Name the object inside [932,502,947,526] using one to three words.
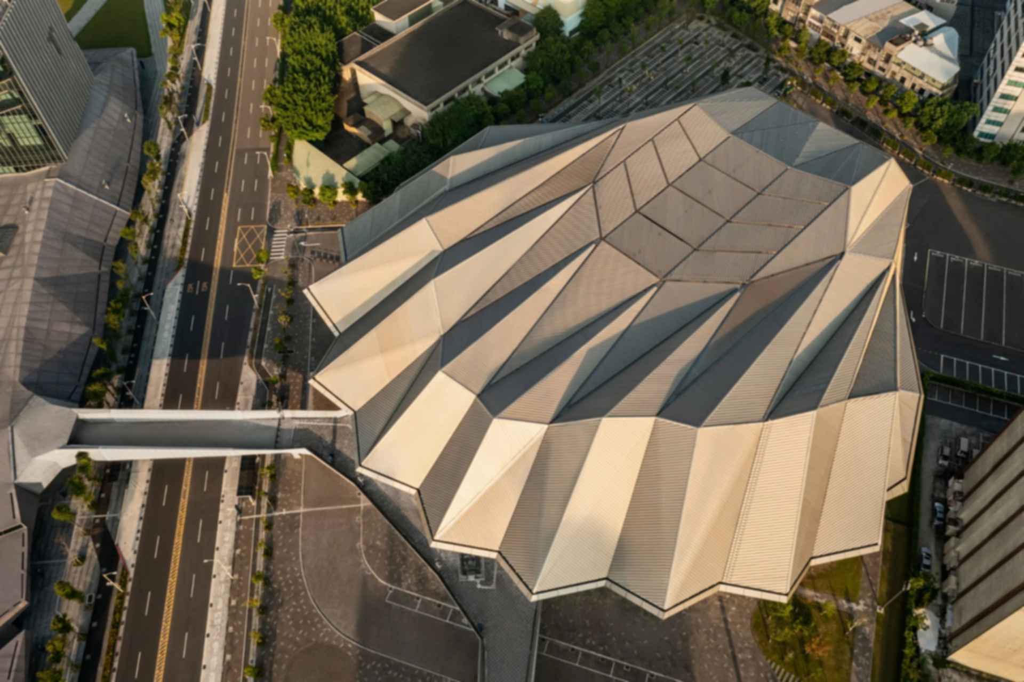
car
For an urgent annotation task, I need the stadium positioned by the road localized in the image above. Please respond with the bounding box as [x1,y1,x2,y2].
[299,85,925,622]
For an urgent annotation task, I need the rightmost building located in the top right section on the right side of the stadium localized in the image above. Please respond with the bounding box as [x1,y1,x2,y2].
[967,19,1024,148]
